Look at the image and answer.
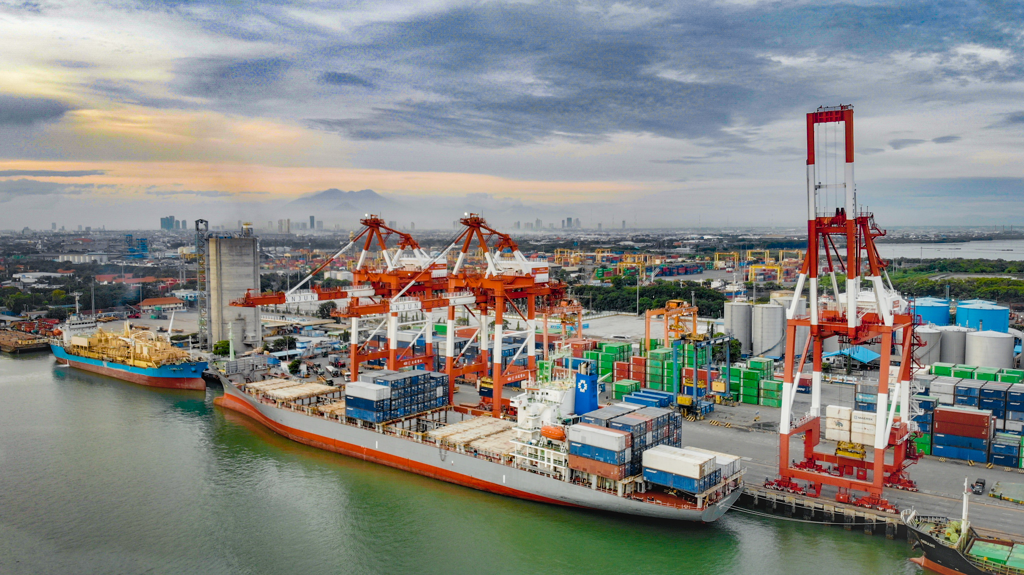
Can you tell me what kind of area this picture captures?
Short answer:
port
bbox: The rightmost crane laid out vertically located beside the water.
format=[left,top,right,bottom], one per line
[759,98,927,513]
